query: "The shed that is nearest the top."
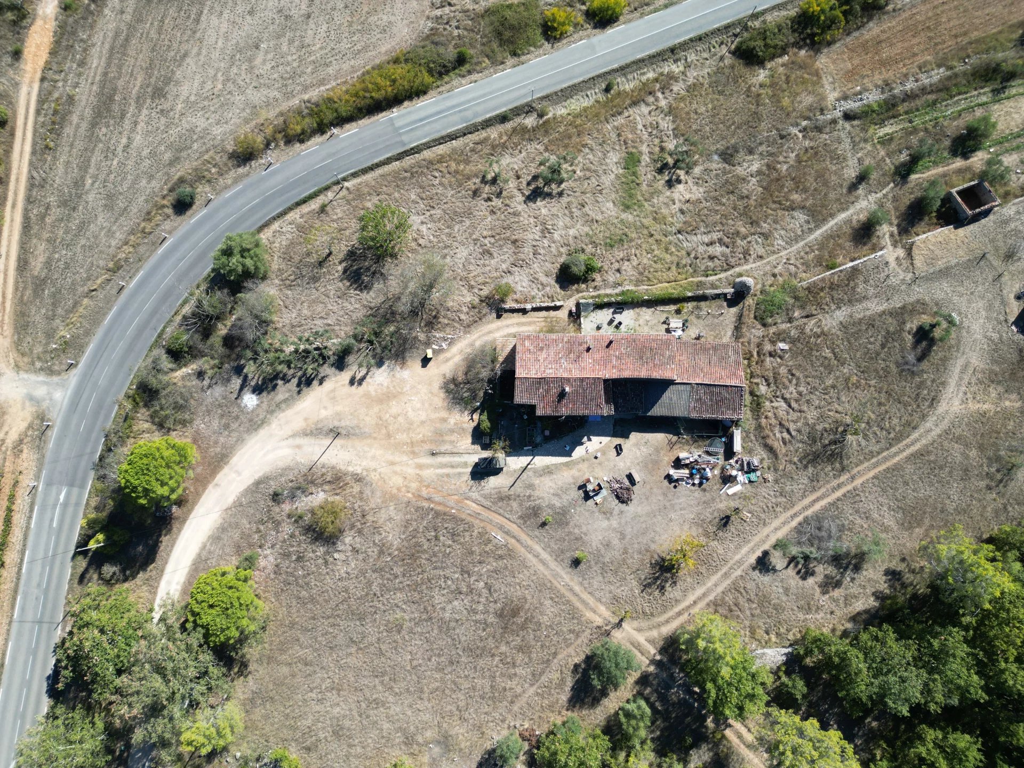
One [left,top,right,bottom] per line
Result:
[941,180,999,232]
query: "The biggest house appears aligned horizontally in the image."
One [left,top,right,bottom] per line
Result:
[513,333,746,420]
